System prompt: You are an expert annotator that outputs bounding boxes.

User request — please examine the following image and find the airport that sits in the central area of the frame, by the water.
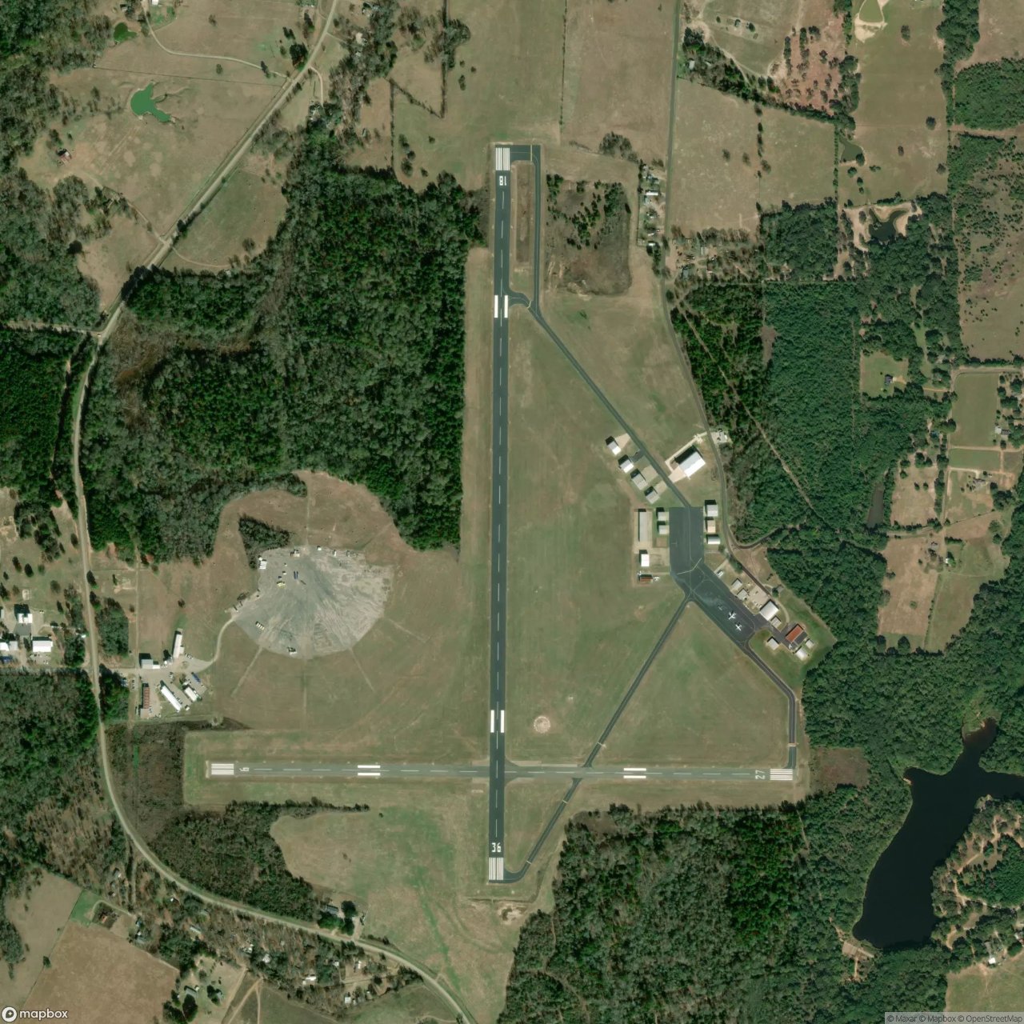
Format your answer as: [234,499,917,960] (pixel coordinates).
[210,145,809,883]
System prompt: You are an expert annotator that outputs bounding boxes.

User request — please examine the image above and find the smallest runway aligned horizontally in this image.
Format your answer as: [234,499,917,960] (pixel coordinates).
[210,764,794,780]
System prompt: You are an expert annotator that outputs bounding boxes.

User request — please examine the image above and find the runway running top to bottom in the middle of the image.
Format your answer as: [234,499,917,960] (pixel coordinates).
[489,145,510,882]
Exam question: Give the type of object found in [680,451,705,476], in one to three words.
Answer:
hangar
